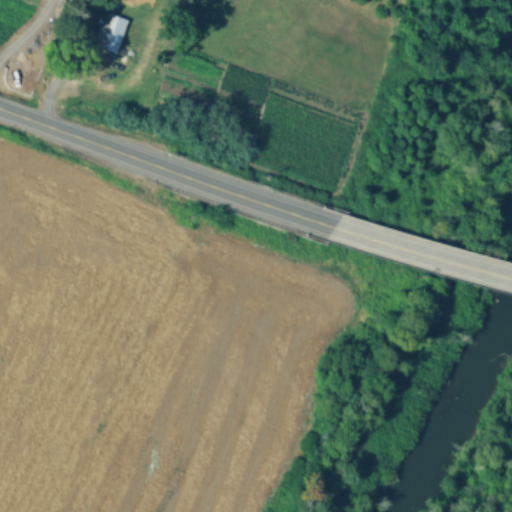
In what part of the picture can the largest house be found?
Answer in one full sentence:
The largest house is in the top left part of the image.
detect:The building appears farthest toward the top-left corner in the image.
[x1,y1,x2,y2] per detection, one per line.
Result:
[88,12,130,52]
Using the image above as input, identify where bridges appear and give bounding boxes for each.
[332,212,512,294]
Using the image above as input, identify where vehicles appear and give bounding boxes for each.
[101,72,117,82]
[112,62,126,71]
[12,70,22,89]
